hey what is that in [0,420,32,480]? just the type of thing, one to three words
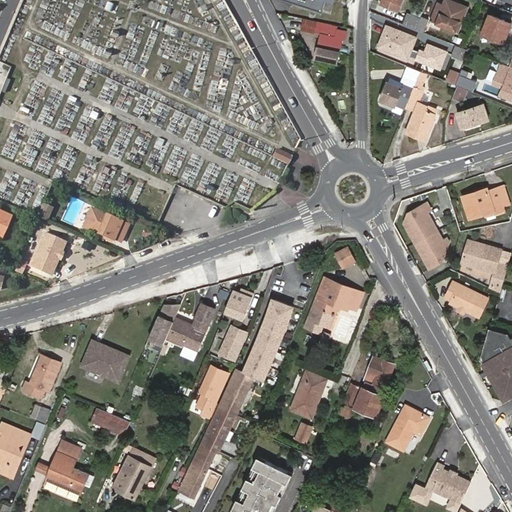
house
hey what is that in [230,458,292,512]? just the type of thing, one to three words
building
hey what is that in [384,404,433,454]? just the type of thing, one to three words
house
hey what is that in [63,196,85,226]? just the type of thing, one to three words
swimming pool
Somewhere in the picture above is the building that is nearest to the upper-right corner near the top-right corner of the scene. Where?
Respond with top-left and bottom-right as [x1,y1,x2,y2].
[480,15,512,46]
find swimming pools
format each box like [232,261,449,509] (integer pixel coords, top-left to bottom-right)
[63,196,85,226]
[481,82,500,96]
